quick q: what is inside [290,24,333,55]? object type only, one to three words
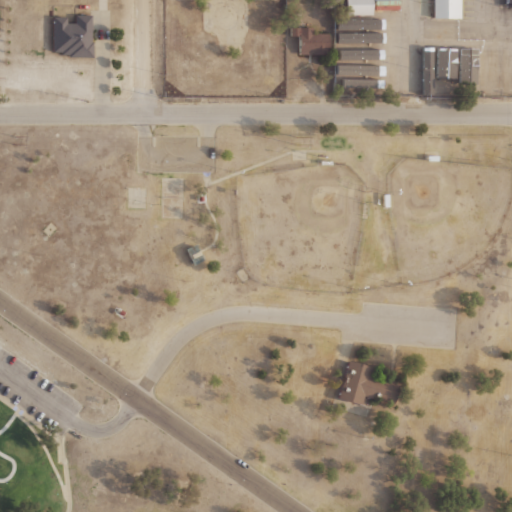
house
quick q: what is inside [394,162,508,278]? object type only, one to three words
baseball field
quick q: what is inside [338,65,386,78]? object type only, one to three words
building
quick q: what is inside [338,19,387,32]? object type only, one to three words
building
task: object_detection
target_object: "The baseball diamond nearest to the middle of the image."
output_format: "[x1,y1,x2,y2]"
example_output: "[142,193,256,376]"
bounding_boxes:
[240,166,362,286]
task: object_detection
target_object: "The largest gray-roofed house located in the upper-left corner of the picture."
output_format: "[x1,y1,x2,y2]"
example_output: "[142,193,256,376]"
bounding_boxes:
[53,15,94,58]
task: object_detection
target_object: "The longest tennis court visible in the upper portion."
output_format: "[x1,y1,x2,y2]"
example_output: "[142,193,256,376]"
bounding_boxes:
[162,178,183,217]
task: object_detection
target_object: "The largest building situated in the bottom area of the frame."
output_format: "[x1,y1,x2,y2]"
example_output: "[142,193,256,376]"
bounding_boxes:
[340,362,402,408]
